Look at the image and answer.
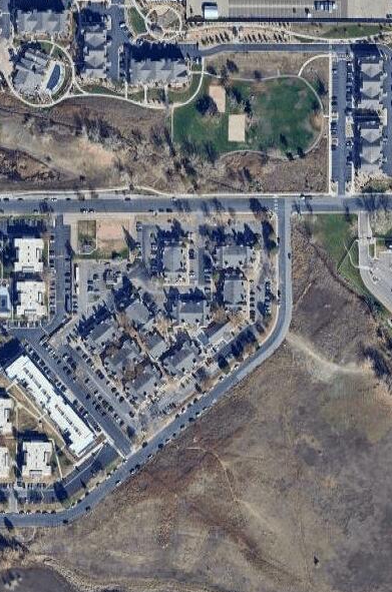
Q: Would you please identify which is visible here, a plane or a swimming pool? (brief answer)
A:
swimming pool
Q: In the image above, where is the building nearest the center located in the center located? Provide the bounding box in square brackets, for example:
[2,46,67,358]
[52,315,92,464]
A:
[175,298,209,323]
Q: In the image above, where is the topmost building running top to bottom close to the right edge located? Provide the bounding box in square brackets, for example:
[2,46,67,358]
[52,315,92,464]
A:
[360,56,385,112]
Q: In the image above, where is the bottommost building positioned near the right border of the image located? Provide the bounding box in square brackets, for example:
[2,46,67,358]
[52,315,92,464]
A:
[360,122,385,174]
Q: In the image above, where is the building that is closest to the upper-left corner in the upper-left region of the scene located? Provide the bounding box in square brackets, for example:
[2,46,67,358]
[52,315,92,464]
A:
[15,9,70,35]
